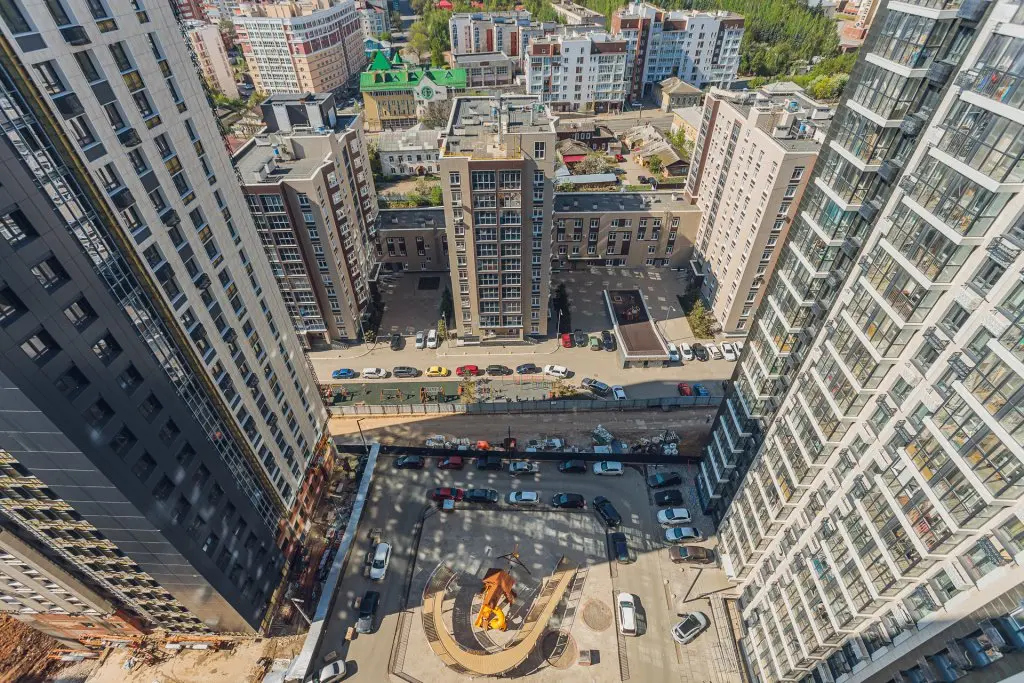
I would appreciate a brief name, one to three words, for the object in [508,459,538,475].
car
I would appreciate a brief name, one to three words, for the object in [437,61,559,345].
building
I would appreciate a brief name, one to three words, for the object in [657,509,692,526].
car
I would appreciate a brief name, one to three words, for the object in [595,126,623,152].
house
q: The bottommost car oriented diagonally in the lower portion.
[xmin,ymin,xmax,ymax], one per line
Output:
[314,650,353,683]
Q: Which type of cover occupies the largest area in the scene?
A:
buildings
